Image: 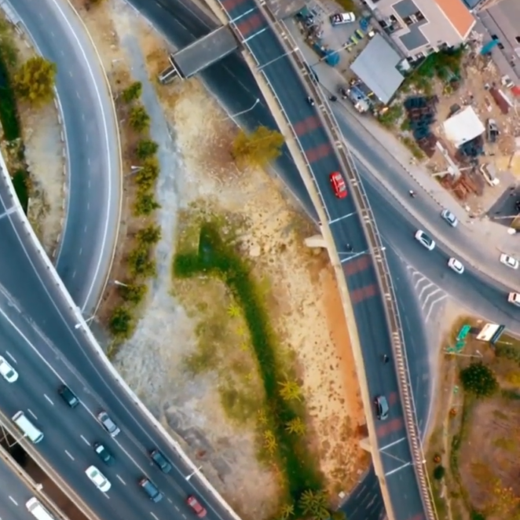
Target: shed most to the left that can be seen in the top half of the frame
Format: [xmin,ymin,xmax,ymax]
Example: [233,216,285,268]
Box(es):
[336,35,406,110]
